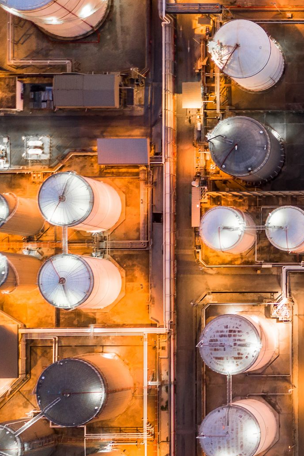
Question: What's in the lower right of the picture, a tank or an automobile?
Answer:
tank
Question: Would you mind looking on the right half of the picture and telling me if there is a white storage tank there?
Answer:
Yes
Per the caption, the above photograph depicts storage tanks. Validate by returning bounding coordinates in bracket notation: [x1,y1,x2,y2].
[36,171,125,235]
[36,254,125,311]
[202,205,263,255]
[0,253,43,293]
[208,115,284,183]
[0,415,59,456]
[36,352,135,426]
[269,205,304,255]
[197,396,279,456]
[197,311,279,375]
[208,19,285,91]
[0,193,44,236]
[0,0,108,36]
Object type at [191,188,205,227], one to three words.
shed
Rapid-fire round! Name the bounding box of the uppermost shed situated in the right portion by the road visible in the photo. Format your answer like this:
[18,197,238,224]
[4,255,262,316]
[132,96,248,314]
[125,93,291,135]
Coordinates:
[182,82,207,112]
